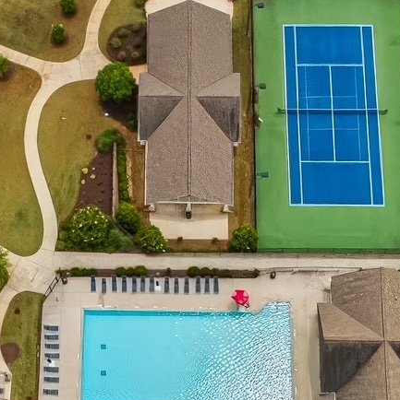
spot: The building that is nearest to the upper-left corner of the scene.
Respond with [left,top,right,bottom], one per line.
[135,0,241,240]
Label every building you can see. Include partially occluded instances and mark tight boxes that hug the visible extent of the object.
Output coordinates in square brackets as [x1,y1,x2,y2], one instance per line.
[135,0,241,240]
[317,267,400,400]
